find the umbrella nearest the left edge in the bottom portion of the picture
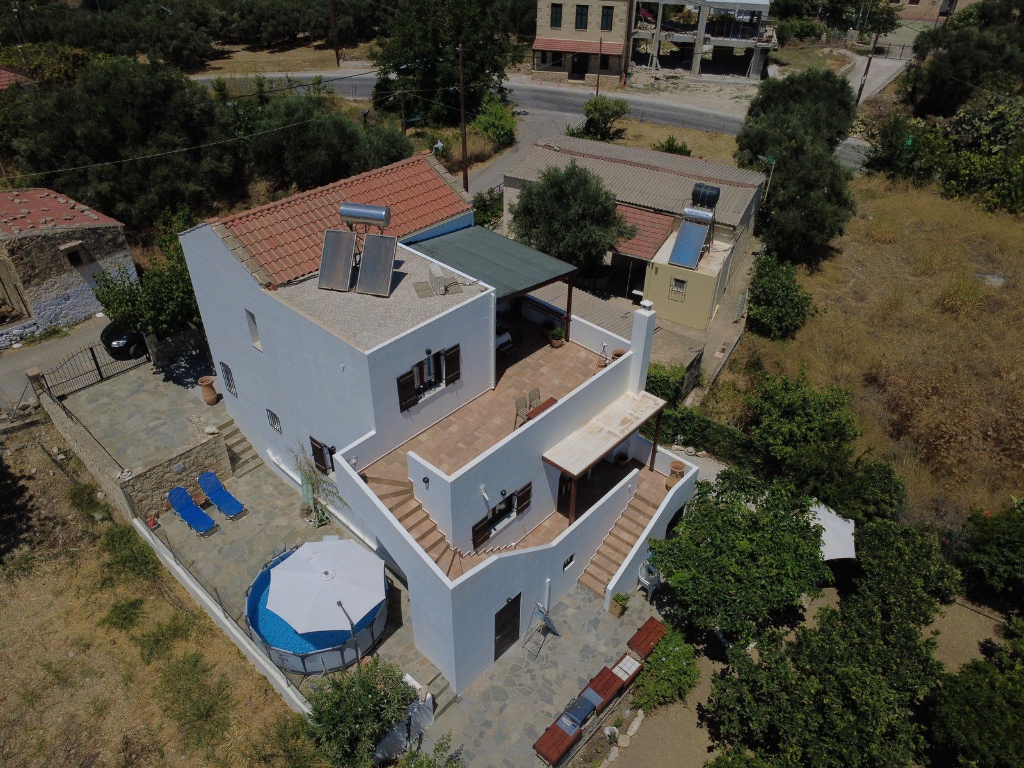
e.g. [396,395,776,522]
[265,539,386,642]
